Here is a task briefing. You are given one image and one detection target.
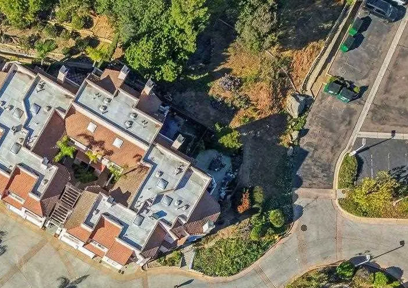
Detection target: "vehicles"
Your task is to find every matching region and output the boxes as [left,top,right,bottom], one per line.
[364,0,401,24]
[388,0,408,13]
